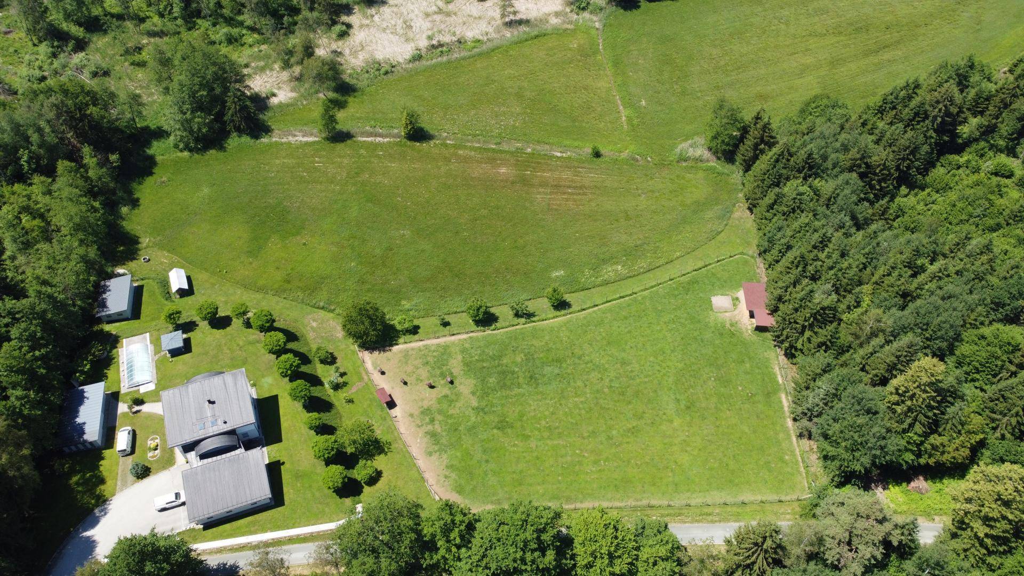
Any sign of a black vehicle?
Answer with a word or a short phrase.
No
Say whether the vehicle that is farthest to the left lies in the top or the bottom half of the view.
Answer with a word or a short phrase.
bottom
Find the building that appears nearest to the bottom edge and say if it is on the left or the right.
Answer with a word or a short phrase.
left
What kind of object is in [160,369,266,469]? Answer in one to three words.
house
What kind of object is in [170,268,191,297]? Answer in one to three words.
tent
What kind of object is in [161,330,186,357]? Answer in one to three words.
building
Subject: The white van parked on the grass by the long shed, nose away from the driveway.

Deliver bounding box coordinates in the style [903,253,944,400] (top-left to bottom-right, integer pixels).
[114,428,134,457]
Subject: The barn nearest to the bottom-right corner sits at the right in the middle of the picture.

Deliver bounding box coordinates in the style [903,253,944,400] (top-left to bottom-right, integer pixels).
[741,282,772,334]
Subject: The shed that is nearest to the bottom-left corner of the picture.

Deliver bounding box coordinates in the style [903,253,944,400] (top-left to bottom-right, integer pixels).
[56,382,109,455]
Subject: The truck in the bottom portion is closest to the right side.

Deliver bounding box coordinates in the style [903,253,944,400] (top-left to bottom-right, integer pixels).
[152,490,185,511]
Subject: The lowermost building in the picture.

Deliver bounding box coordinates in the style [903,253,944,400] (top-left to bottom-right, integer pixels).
[181,447,273,525]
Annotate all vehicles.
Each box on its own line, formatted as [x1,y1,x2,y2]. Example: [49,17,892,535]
[114,428,134,457]
[152,490,185,511]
